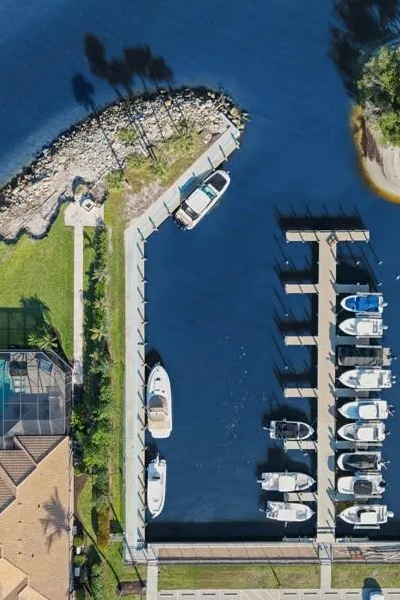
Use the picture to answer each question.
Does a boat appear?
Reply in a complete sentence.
Yes, the frame does contain a boat.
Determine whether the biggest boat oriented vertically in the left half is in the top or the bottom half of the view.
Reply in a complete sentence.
The biggest boat oriented vertically in the left half sits in the bottom half of the picture.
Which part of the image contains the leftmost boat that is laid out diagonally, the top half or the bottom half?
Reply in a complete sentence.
The leftmost boat that is laid out diagonally is in the top half of the image.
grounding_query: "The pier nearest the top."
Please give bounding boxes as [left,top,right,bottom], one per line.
[285,228,369,543]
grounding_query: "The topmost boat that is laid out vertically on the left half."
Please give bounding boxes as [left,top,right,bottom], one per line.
[147,369,172,441]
